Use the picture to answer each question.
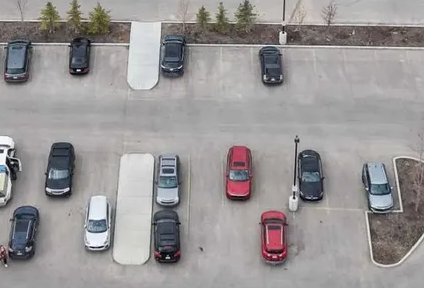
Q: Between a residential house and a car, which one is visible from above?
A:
car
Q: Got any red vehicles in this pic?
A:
Yes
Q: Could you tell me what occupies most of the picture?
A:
paved ground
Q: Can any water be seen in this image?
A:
No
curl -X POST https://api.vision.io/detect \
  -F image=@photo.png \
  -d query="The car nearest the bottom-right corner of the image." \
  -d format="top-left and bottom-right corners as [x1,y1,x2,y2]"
[362,163,395,215]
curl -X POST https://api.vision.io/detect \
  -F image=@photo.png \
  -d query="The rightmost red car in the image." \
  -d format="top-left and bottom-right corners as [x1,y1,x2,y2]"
[258,214,290,265]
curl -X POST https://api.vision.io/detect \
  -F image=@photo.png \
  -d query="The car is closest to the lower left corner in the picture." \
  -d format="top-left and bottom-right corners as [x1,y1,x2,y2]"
[9,209,41,260]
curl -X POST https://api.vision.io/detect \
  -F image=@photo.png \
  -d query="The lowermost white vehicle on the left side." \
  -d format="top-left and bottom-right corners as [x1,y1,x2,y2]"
[83,199,113,250]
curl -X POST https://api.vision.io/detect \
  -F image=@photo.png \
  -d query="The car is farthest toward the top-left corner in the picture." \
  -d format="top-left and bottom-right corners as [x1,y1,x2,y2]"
[4,42,34,84]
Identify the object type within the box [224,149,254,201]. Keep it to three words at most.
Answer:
car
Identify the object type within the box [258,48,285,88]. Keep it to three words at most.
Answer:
car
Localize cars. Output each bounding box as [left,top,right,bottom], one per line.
[4,42,34,84]
[66,37,93,78]
[152,213,184,265]
[258,48,285,88]
[297,152,326,202]
[160,38,187,79]
[152,155,183,207]
[224,149,254,201]
[258,214,290,265]
[9,209,41,260]
[83,199,113,250]
[43,140,75,197]
[362,163,395,215]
